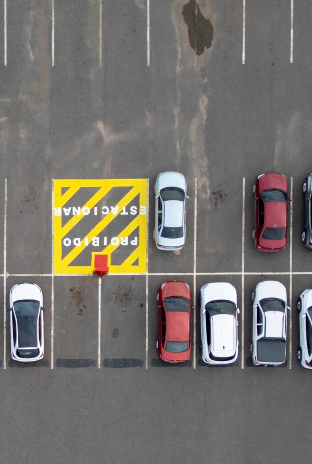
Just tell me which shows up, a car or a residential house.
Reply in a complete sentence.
Looking from above, you can make out a car.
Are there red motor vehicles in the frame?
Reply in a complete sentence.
Yes, you can see a red motor vehicle in this photo.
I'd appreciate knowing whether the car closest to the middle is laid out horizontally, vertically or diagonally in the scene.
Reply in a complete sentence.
The car closest to the middle has been laid out vertically relative to the frame.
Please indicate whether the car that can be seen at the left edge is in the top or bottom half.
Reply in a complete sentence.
You can find the car that can be seen at the left edge in the bottom half.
